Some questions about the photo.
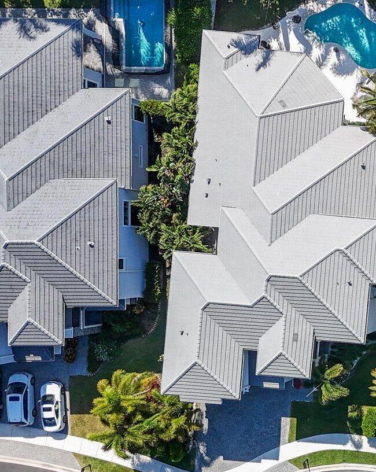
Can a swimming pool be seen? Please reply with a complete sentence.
Yes, there's a swimming pool down there.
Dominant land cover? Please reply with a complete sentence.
The scene is dominated by buildings.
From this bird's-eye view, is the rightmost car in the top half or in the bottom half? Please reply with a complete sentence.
Seen from above, the rightmost car lies in the bottom half of the view.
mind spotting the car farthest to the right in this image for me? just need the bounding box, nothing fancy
[38,381,69,432]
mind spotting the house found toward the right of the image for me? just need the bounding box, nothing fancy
[161,28,376,406]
